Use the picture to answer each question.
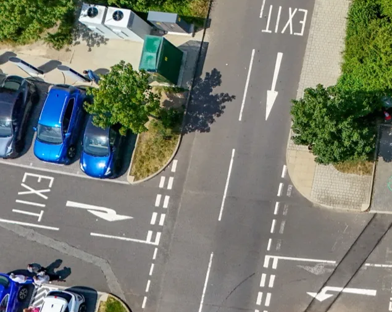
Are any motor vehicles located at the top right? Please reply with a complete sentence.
No, at the top right there is no motor vehicle.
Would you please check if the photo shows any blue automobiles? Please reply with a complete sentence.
Yes, the picture does show a blue automobile.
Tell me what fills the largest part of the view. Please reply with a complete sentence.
The largest share of the image is taken up by paved ground.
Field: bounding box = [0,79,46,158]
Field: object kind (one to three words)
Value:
car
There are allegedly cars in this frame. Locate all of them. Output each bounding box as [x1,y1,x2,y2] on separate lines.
[0,272,31,312]
[79,108,134,178]
[0,79,46,158]
[34,89,90,163]
[38,292,87,312]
